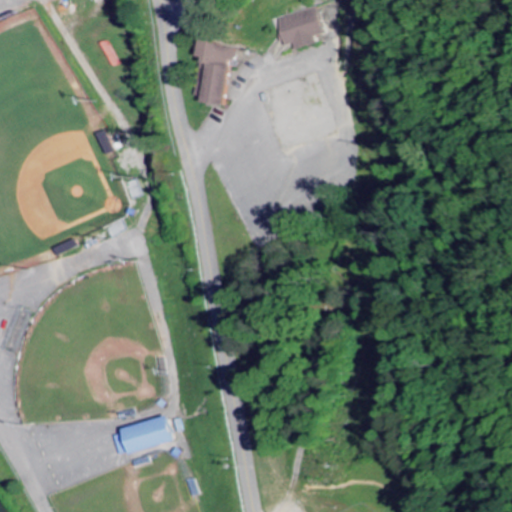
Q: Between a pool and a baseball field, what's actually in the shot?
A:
baseball field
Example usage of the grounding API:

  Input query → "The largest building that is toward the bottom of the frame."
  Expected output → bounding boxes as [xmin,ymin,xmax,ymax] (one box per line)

[114,416,176,454]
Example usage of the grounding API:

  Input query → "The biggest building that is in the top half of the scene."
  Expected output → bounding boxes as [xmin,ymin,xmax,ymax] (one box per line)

[192,40,238,104]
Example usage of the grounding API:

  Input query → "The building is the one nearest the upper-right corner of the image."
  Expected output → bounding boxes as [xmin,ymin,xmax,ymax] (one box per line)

[278,8,324,48]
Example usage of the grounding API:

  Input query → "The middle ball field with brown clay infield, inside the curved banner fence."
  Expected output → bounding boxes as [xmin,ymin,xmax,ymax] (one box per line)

[16,260,165,423]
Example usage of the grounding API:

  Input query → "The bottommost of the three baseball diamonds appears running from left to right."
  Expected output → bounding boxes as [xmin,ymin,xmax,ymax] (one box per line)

[48,458,200,512]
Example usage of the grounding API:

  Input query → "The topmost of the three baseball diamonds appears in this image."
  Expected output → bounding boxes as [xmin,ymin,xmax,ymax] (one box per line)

[0,8,127,275]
